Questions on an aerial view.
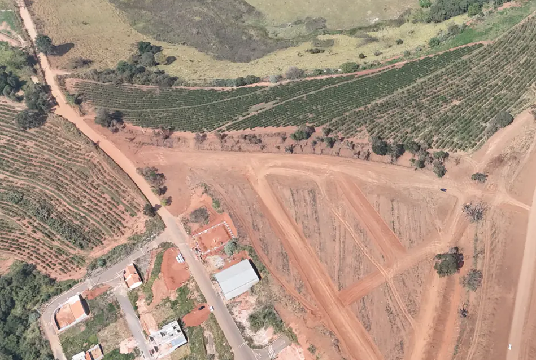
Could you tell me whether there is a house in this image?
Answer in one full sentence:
Yes, looking at the shot, I can spot a house.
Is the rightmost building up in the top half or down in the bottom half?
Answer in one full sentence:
It is in the bottom half that the rightmost building appears.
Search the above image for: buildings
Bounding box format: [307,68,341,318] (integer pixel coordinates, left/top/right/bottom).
[69,348,106,360]
[120,264,146,293]
[55,294,90,332]
[217,260,261,298]
[149,321,190,360]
